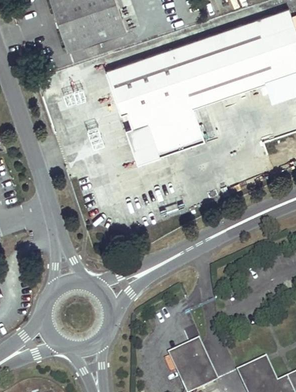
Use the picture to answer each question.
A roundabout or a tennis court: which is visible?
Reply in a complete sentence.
Visible in the photo is a roundabout.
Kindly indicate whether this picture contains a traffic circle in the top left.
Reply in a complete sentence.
No, the scene shows no traffic circle in the top left.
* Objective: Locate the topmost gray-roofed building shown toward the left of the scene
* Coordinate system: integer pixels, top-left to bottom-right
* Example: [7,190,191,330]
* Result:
[50,0,127,52]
